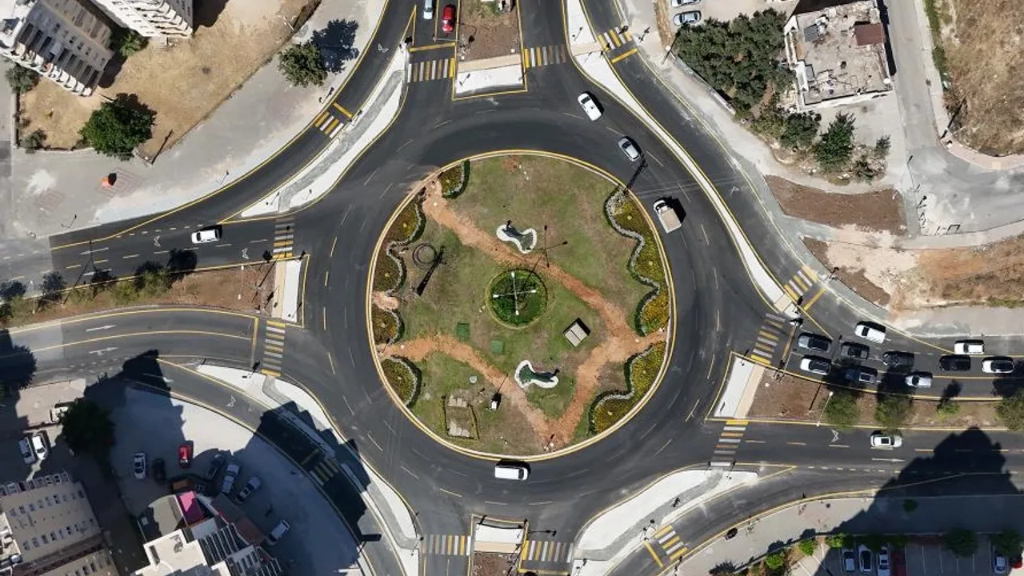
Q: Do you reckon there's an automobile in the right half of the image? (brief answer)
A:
Yes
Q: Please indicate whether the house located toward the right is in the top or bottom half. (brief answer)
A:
top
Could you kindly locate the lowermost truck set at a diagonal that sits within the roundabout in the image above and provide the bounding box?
[651,198,681,234]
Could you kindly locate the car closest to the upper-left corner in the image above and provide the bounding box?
[192,228,222,243]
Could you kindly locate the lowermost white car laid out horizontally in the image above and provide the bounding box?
[494,464,529,480]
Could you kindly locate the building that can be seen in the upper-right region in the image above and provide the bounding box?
[777,0,894,114]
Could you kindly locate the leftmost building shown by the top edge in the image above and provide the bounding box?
[0,0,118,94]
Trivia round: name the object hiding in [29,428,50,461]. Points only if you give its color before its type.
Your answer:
white car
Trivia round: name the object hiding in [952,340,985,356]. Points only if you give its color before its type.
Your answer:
white car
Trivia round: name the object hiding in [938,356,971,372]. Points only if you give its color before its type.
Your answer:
black car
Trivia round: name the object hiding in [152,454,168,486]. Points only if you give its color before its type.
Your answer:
black car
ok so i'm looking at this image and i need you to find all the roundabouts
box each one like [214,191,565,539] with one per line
[305,90,739,524]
